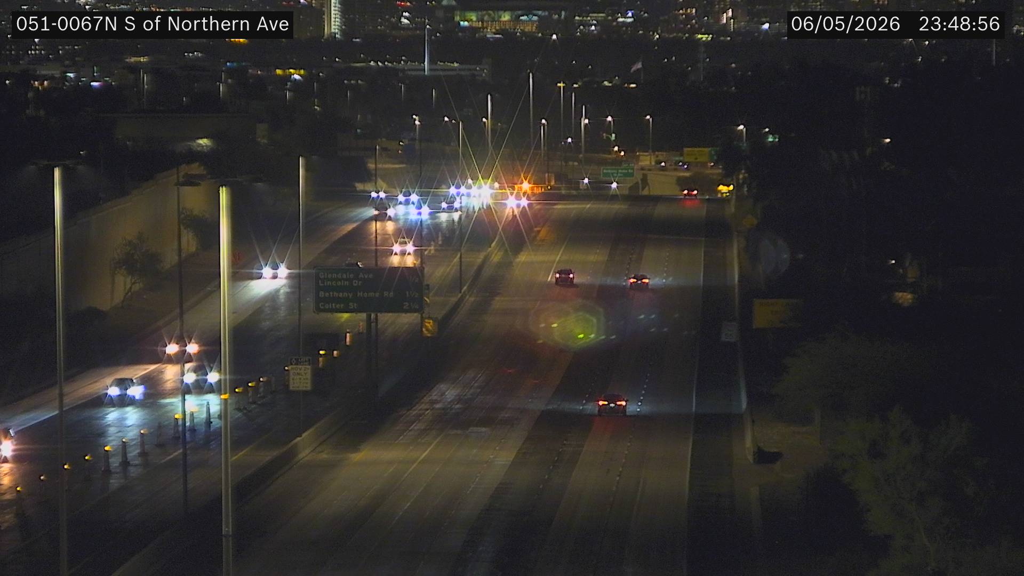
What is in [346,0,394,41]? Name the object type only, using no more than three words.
building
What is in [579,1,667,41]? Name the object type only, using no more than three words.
building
